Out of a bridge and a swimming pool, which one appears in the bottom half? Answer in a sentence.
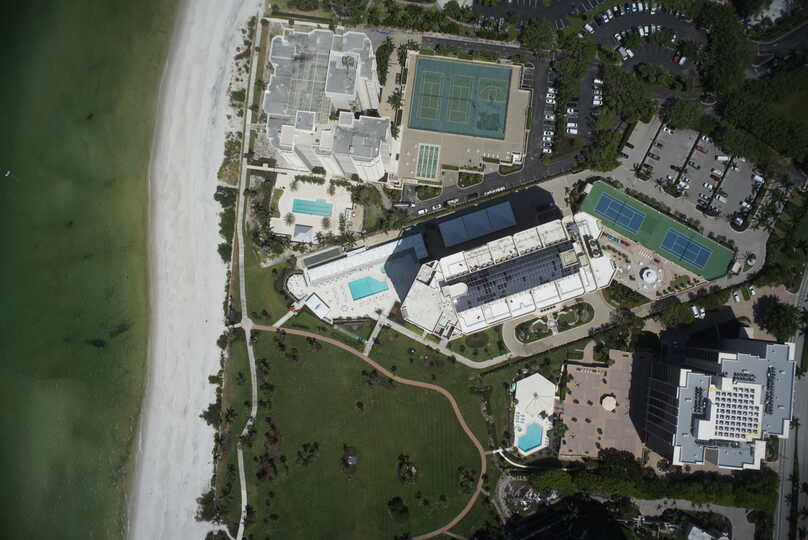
The one visible in the bottom half is a swimming pool.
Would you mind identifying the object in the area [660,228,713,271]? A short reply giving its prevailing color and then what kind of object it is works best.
blue tennis court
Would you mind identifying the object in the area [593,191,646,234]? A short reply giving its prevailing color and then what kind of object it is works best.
blue tennis court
